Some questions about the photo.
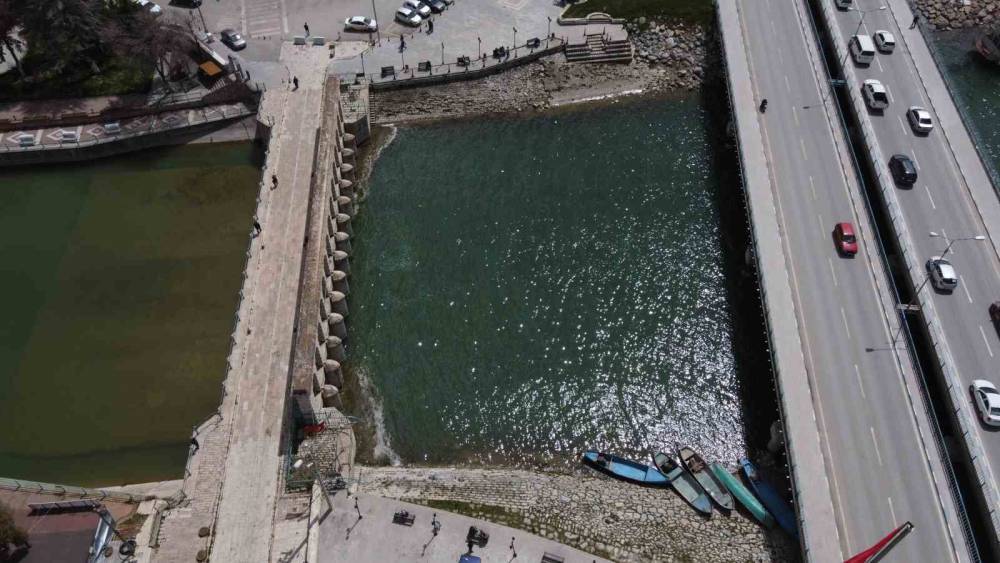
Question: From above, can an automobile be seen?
Yes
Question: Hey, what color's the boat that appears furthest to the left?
blue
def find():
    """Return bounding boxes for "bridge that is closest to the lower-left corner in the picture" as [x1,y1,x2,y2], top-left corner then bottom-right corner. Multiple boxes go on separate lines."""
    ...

[150,42,369,563]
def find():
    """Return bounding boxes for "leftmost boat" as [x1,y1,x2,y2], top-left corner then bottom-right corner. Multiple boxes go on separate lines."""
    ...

[582,453,673,487]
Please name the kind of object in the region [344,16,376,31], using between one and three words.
car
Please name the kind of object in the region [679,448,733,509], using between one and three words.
boat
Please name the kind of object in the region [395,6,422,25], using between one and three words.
car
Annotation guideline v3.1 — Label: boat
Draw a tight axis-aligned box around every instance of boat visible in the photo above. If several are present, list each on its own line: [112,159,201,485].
[710,461,775,527]
[679,448,733,509]
[652,453,711,515]
[582,453,673,487]
[738,458,800,538]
